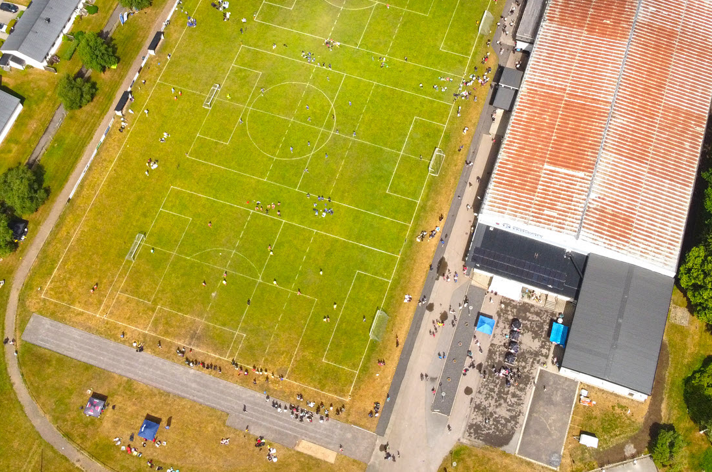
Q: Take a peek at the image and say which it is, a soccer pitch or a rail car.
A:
soccer pitch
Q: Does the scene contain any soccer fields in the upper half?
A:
Yes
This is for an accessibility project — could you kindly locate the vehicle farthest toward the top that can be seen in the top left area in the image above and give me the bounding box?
[0,2,21,14]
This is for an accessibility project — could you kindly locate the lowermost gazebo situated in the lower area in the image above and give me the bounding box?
[138,421,162,443]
